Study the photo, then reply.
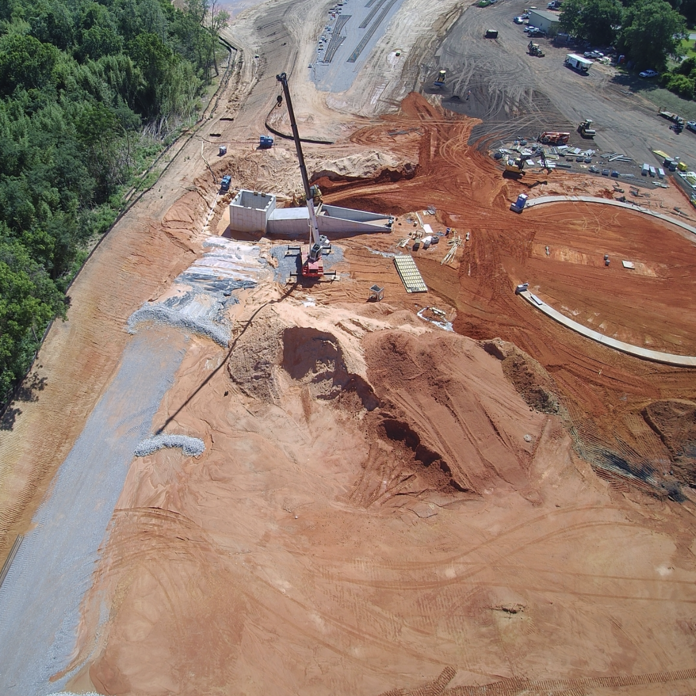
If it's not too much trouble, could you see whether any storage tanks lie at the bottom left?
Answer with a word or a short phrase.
No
